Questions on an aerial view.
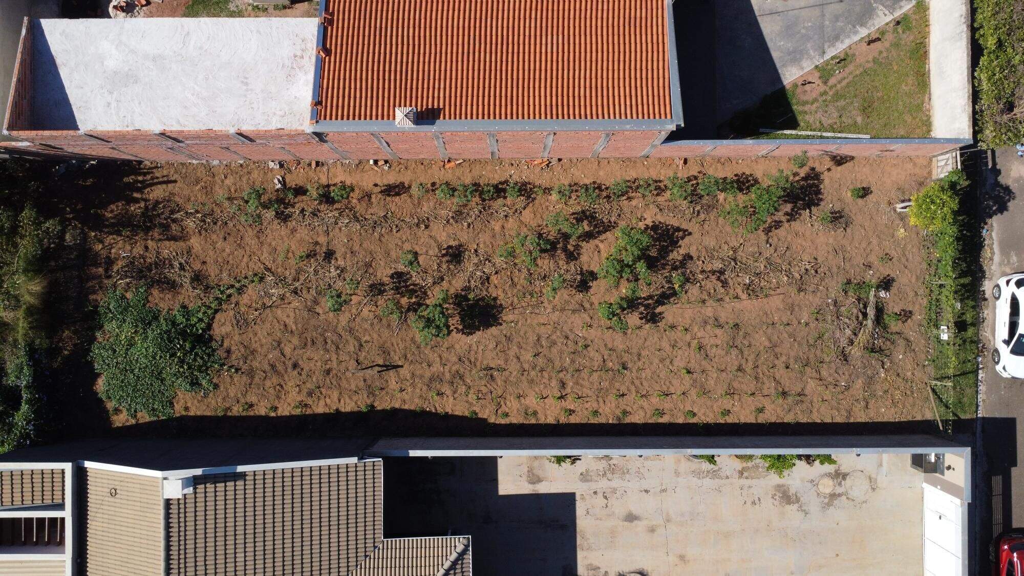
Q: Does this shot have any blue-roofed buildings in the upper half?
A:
No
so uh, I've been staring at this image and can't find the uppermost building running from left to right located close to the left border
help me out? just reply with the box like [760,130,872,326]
[0,14,342,157]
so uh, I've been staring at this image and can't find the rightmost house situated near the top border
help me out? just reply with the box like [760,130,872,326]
[307,0,684,157]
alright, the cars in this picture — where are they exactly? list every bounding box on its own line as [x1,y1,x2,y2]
[987,273,1024,379]
[991,530,1024,576]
